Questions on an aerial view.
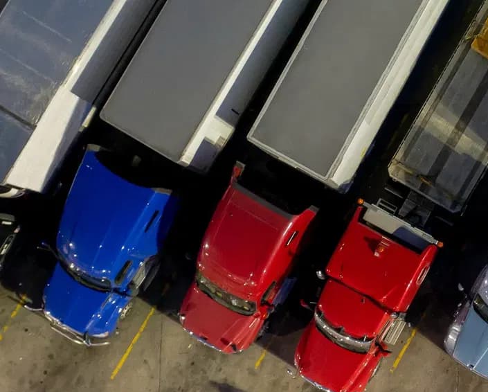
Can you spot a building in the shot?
No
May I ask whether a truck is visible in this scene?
Yes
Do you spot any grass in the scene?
No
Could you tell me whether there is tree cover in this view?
No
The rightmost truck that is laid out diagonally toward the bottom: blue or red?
red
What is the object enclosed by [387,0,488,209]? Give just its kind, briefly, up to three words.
trailer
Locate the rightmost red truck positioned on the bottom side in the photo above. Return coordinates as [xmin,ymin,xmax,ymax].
[289,171,488,392]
